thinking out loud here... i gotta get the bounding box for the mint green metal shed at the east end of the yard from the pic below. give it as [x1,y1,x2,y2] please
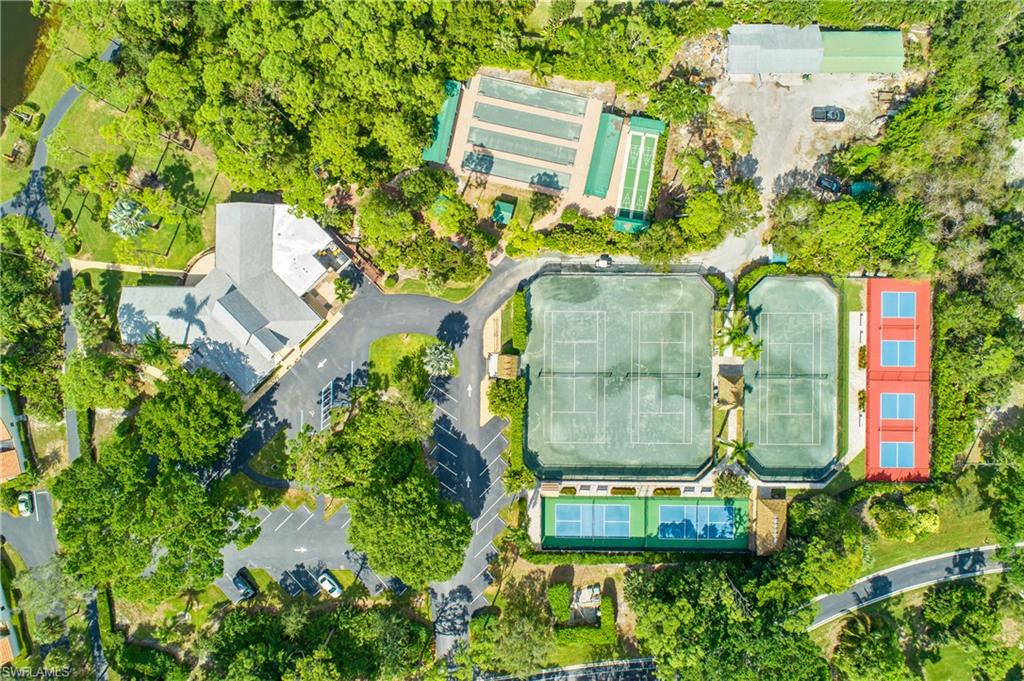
[821,31,903,73]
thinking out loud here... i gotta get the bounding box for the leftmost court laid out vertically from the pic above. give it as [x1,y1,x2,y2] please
[525,274,619,479]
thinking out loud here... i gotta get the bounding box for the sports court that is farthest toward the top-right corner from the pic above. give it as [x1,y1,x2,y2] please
[867,278,931,380]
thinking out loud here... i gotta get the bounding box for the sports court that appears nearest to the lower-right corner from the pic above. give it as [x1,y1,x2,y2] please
[866,380,931,481]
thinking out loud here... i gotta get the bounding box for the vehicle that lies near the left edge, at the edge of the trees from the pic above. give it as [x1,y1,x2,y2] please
[19,491,35,517]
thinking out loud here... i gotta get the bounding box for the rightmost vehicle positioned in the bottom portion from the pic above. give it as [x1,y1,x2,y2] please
[318,572,342,597]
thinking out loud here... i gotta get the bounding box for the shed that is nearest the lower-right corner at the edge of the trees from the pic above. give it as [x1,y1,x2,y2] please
[754,497,789,556]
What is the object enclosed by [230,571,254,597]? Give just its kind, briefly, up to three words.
car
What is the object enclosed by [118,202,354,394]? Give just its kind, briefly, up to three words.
building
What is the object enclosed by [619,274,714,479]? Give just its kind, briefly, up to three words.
tennis court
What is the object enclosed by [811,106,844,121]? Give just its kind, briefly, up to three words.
vehicle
